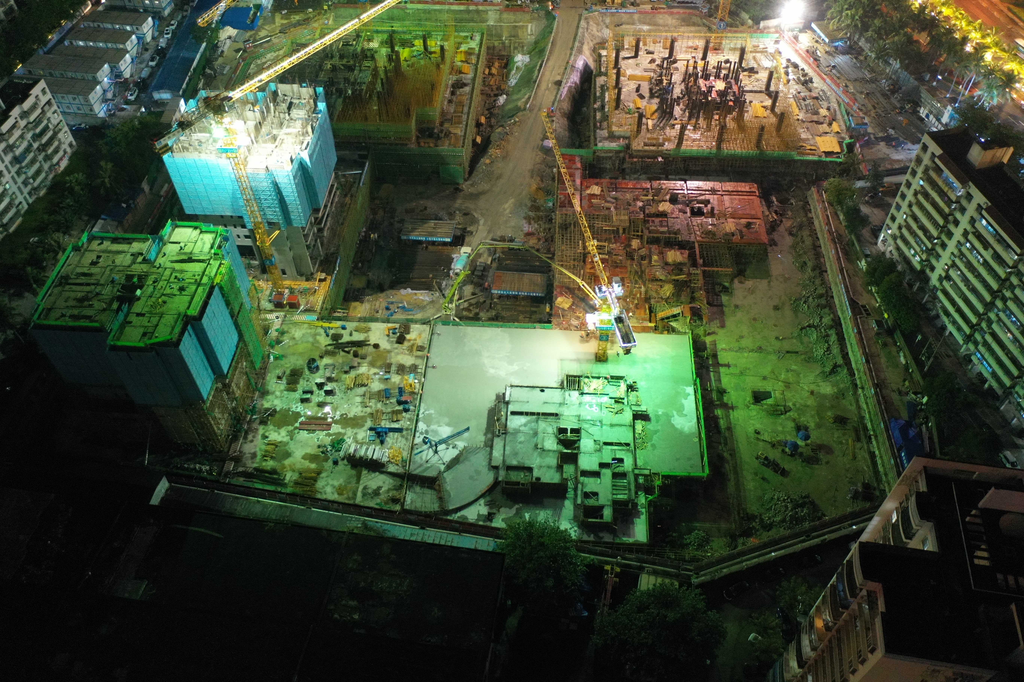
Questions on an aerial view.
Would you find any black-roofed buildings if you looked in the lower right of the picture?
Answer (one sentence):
Yes, there is a black-roofed building in the lower right of the picture.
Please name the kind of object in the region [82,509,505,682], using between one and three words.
building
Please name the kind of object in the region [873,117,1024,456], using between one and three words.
building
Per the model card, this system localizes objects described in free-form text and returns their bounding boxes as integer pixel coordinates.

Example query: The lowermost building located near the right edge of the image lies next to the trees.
[762,453,1024,682]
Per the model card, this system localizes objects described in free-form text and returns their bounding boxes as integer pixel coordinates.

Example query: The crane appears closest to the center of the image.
[544,117,643,385]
